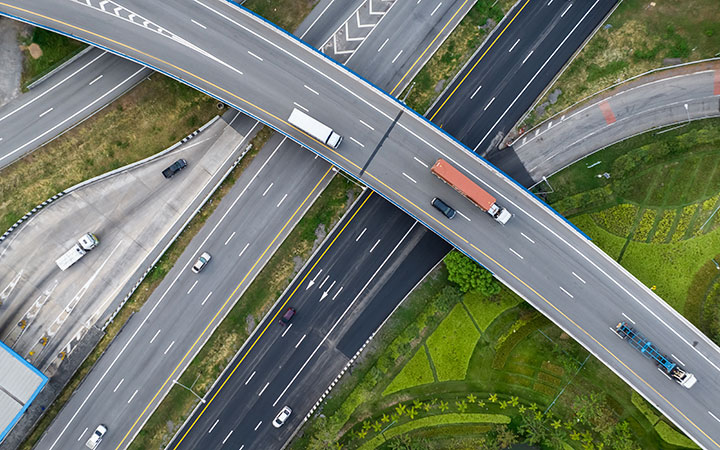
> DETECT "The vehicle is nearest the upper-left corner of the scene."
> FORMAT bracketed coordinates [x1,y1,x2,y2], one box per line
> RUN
[162,160,189,179]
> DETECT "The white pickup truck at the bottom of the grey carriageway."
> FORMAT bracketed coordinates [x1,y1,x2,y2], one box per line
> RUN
[86,423,110,450]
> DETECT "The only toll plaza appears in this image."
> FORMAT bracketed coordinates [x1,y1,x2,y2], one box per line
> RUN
[0,338,50,443]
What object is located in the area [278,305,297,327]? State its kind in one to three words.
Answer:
car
